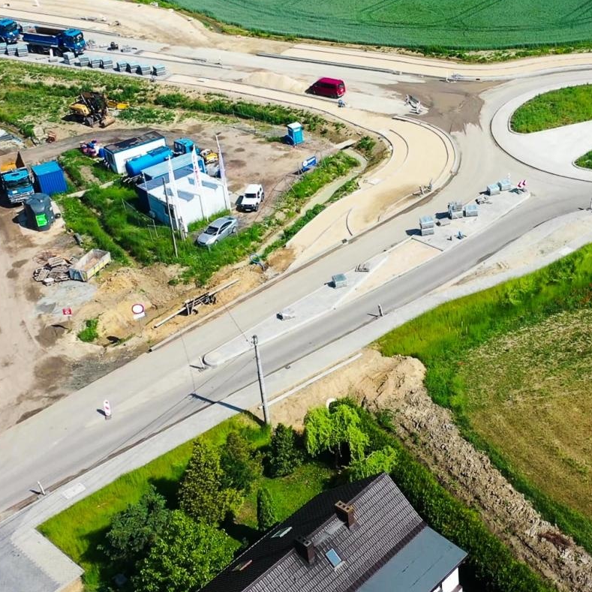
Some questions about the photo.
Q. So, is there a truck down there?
Yes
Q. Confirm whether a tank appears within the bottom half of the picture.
No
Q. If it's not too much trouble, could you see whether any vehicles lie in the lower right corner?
No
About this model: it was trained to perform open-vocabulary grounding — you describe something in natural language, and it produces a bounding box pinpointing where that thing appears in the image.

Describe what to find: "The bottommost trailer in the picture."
[152,271,241,326]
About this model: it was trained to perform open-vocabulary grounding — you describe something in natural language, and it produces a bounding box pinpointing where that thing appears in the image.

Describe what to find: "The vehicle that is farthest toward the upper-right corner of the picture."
[305,77,343,97]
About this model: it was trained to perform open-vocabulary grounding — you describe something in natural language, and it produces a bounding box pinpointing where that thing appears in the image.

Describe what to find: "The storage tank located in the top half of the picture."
[20,192,52,223]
